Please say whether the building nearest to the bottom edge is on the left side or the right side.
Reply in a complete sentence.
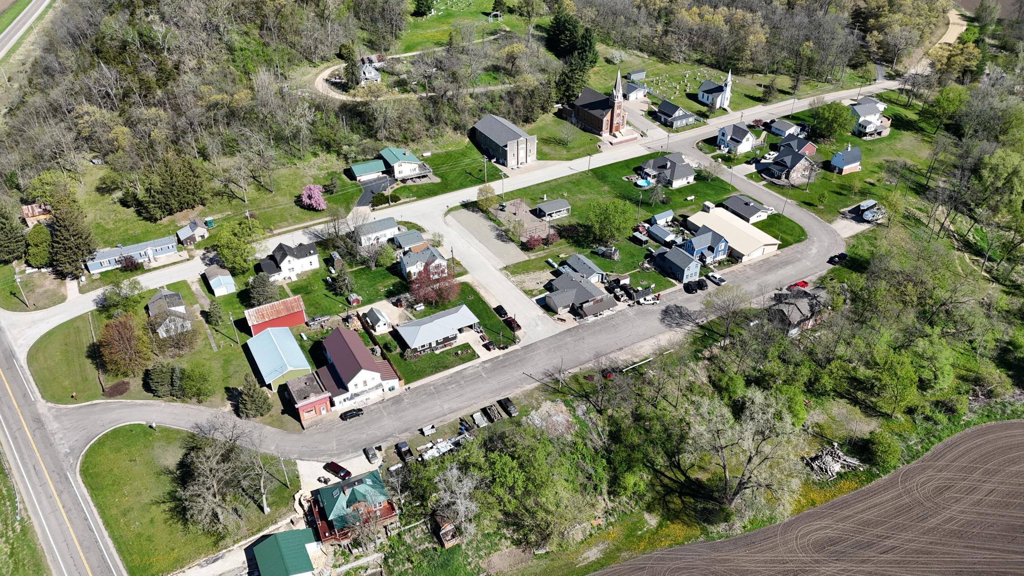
The building nearest to the bottom edge is on the left side of the image.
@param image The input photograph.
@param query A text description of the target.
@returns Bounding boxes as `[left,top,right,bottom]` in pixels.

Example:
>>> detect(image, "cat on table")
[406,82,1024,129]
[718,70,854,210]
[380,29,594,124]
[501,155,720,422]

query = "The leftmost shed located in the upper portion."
[25,200,55,223]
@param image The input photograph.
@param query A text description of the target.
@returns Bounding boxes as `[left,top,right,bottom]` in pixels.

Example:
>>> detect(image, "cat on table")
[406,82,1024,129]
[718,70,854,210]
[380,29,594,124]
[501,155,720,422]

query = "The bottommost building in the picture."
[253,528,338,576]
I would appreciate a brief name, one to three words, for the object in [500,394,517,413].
vehicle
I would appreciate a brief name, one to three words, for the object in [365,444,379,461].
car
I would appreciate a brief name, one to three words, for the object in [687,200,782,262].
building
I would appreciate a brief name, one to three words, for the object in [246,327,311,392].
barn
